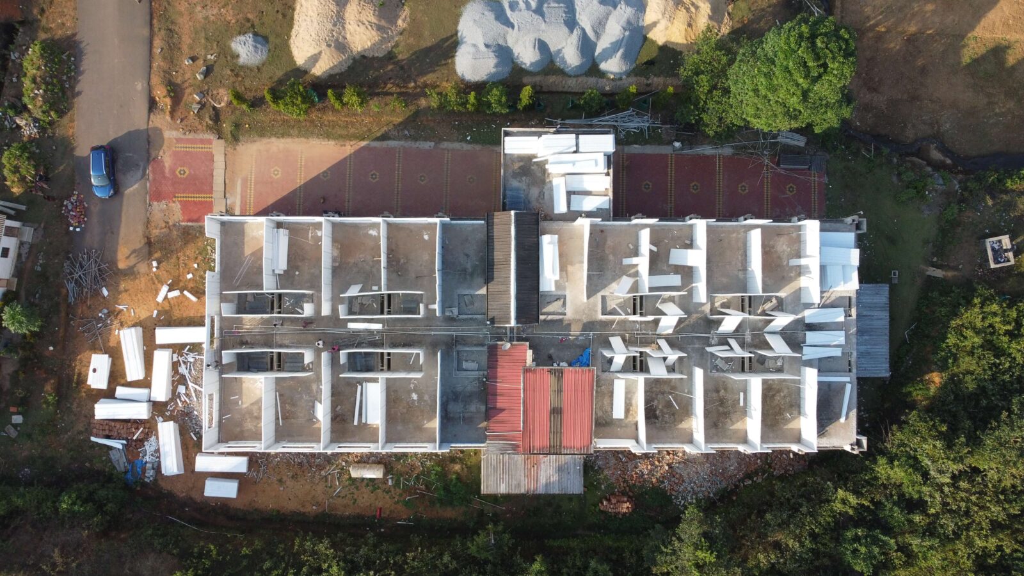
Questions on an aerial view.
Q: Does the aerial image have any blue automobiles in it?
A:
Yes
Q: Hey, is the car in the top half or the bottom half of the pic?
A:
top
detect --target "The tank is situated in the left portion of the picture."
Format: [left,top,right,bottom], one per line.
[351,463,384,479]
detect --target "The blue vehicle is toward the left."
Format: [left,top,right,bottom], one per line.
[89,146,119,198]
